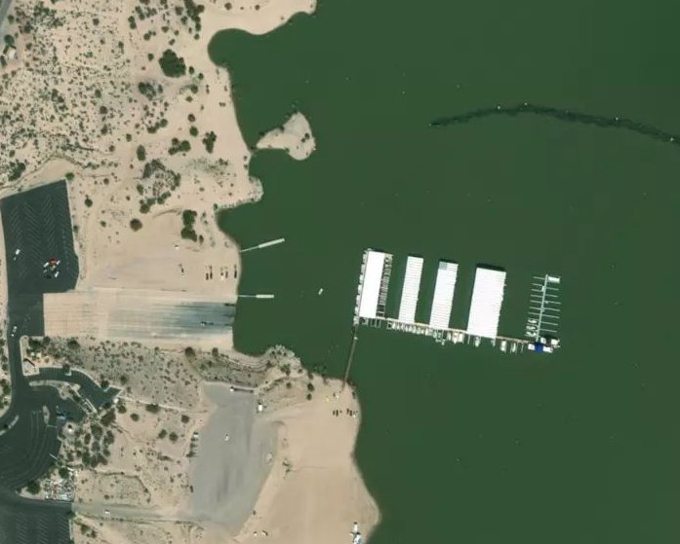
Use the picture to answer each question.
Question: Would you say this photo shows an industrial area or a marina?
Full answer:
What you see here is a marina.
